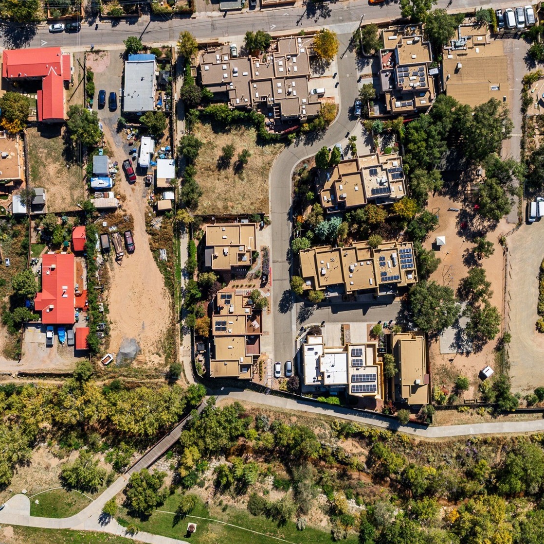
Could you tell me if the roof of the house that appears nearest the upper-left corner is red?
Yes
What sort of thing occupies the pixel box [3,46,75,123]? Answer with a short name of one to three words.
house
